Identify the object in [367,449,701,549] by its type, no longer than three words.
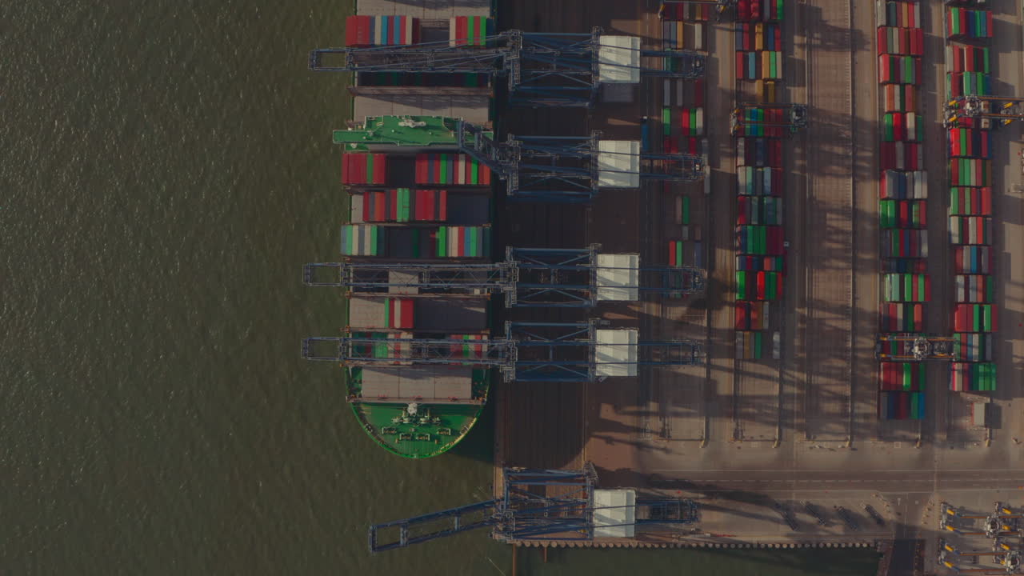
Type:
container crane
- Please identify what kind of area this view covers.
port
